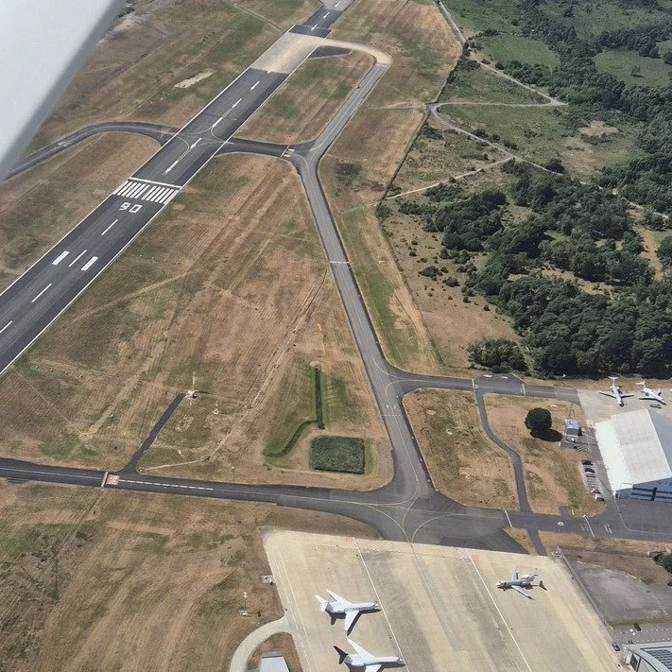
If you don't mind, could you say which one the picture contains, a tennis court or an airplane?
airplane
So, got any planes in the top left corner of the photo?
No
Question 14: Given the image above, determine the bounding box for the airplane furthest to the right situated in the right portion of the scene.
[633,373,667,404]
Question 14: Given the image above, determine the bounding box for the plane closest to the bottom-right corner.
[498,570,546,597]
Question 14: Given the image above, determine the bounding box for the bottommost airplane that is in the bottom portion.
[337,635,405,672]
